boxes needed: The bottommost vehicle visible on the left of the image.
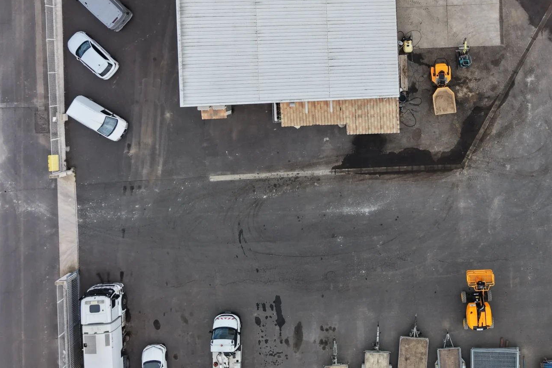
[141,342,166,368]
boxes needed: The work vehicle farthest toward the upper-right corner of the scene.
[456,38,471,69]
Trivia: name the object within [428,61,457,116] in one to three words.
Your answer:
truck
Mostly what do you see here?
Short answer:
paved ground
